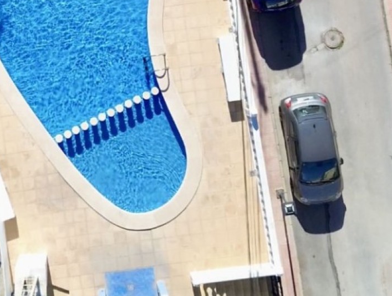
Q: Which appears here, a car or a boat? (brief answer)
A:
car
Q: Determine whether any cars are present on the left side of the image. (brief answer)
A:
No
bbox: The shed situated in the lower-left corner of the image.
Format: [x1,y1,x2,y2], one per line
[17,244,52,296]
